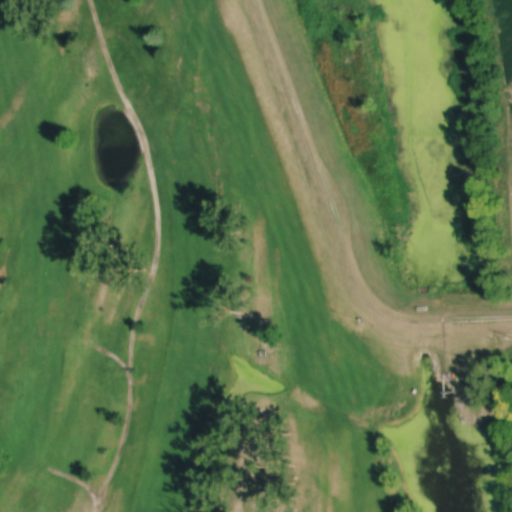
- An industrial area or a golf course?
golf course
